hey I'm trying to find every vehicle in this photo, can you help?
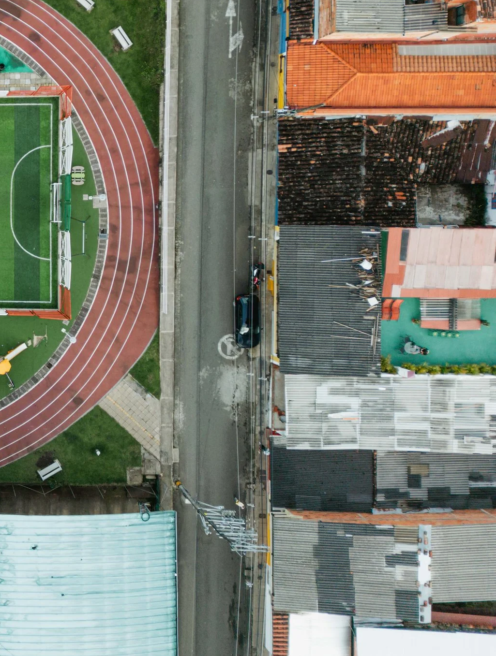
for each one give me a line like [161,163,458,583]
[253,262,268,289]
[233,295,263,348]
